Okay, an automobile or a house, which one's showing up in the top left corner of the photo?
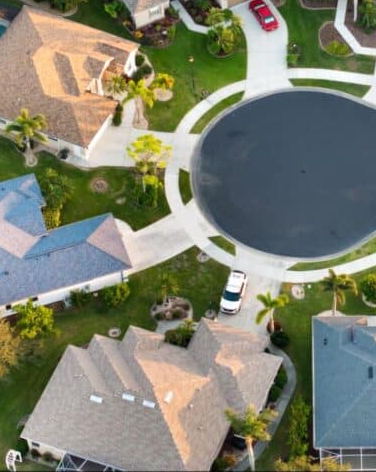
house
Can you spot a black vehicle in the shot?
No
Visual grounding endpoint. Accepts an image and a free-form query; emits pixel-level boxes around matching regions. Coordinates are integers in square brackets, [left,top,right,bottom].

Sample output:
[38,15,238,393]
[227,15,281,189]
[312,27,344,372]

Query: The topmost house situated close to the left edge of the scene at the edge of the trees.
[0,5,139,155]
